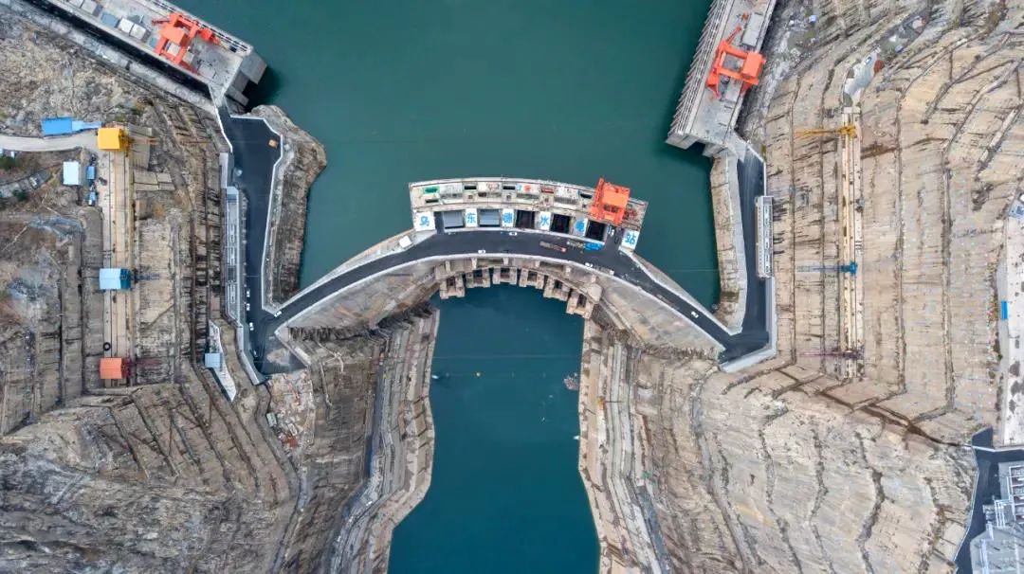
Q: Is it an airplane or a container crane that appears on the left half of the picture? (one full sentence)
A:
It is a container crane that can be seen on the left half of the picture.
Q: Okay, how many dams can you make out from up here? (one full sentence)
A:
The picture shows 1 dam.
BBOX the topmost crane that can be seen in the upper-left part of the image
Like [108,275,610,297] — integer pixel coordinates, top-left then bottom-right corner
[150,13,228,79]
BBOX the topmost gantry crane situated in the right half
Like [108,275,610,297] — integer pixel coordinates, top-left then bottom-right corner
[700,26,763,97]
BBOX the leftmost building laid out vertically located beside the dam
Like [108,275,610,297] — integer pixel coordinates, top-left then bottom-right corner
[226,181,245,327]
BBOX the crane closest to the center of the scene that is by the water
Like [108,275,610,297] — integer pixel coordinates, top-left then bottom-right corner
[588,178,631,227]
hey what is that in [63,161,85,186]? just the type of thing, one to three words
shed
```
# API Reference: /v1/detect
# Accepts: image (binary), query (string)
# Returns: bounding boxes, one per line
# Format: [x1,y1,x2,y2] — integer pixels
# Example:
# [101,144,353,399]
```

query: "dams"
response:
[274,177,732,348]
